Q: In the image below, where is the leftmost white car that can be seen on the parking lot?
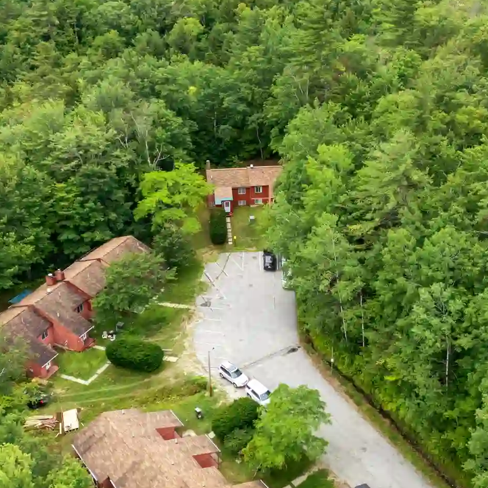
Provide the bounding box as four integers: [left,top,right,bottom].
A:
[217,360,247,387]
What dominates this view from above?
trees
